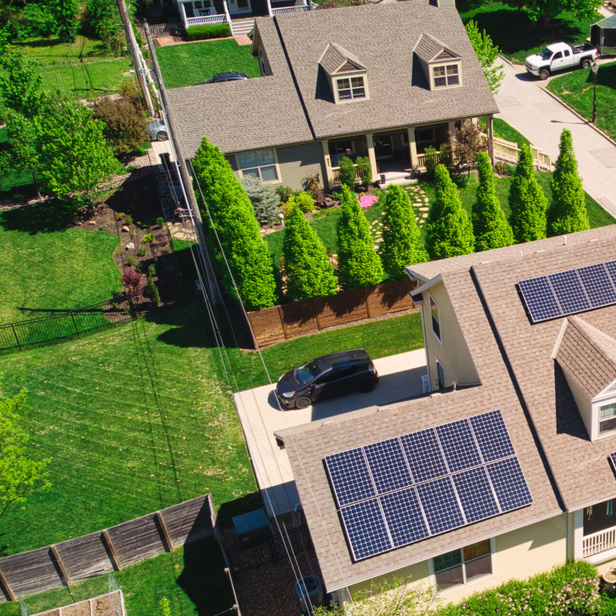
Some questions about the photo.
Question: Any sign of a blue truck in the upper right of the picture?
No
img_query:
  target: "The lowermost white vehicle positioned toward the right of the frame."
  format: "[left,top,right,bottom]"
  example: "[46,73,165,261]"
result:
[519,43,596,78]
